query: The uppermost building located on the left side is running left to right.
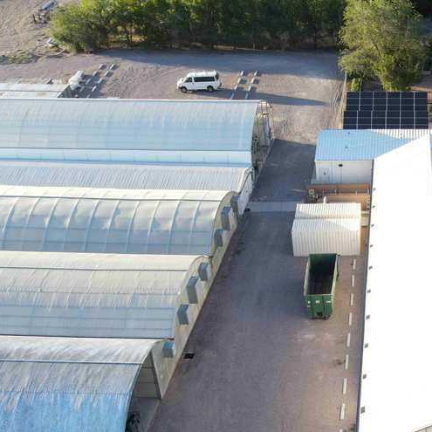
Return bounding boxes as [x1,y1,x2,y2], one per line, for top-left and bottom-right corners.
[0,95,273,178]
